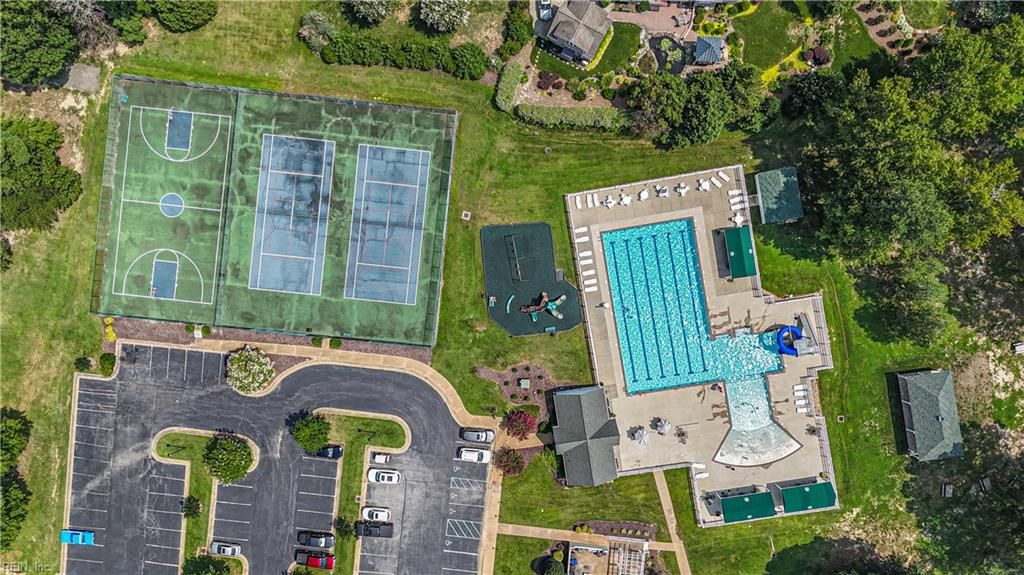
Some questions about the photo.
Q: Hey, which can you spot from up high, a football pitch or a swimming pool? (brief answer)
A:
swimming pool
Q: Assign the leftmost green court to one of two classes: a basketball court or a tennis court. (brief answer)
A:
basketball court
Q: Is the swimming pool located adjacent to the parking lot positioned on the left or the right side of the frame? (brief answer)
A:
right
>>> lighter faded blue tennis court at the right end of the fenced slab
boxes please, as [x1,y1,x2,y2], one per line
[331,104,458,345]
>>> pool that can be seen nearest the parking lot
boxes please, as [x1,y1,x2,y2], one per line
[588,204,822,477]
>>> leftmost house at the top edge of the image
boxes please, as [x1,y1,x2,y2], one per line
[544,0,623,71]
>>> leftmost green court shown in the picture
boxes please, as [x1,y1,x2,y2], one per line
[102,80,244,323]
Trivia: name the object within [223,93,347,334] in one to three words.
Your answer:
tennis court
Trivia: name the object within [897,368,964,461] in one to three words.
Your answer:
building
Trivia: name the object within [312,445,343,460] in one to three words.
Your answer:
car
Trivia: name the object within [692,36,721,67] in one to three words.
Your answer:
gazebo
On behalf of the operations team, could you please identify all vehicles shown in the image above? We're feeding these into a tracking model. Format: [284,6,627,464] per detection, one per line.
[356,519,394,537]
[462,428,495,445]
[60,528,98,547]
[297,530,336,549]
[295,551,335,570]
[213,539,242,555]
[538,0,554,22]
[363,505,392,521]
[458,446,491,464]
[367,467,401,484]
[374,452,390,464]
[312,445,343,460]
